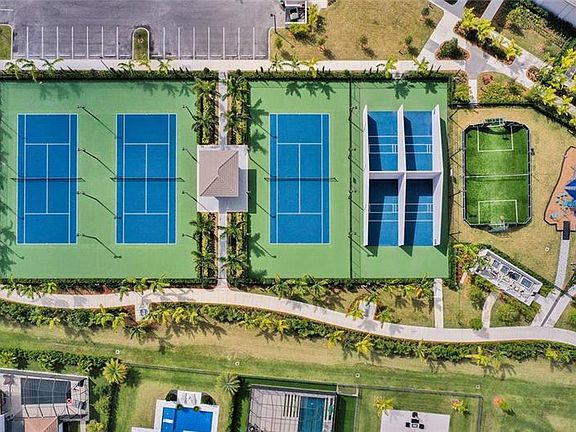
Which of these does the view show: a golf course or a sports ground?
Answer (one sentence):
It's a sports ground.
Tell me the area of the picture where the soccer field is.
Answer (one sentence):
The soccer field is located in the right region of the scene.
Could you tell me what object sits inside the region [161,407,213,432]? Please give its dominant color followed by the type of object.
blue swimming pool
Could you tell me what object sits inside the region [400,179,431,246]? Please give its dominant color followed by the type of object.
blue sports court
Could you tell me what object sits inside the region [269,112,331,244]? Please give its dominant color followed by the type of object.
blue tennis court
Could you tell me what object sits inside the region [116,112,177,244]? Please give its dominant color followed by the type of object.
blue tennis court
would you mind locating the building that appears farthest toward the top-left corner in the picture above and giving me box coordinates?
[197,145,248,212]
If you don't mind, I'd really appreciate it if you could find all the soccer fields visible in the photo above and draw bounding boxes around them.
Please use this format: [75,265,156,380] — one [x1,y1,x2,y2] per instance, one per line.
[467,124,530,225]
